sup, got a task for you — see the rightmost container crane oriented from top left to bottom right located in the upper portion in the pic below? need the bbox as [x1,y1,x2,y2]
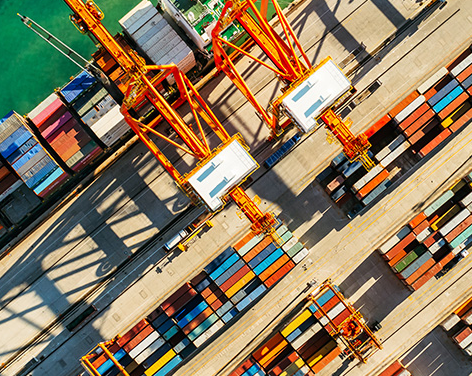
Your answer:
[207,0,374,169]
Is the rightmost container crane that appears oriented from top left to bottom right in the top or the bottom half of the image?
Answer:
bottom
